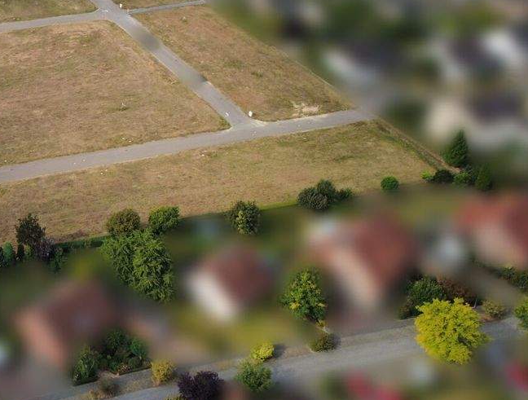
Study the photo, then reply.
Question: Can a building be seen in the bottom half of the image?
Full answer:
Yes, a building shows up in the bottom half of the image.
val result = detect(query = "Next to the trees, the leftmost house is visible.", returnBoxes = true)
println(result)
[24,287,126,376]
